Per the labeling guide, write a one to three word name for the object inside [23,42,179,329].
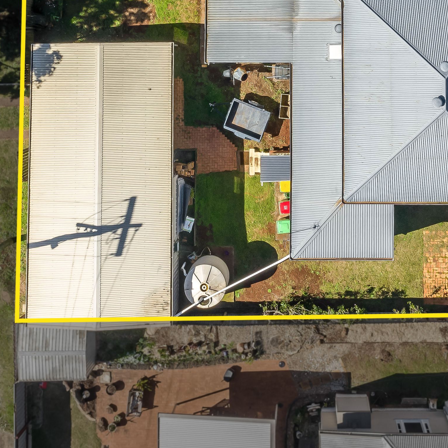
shed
